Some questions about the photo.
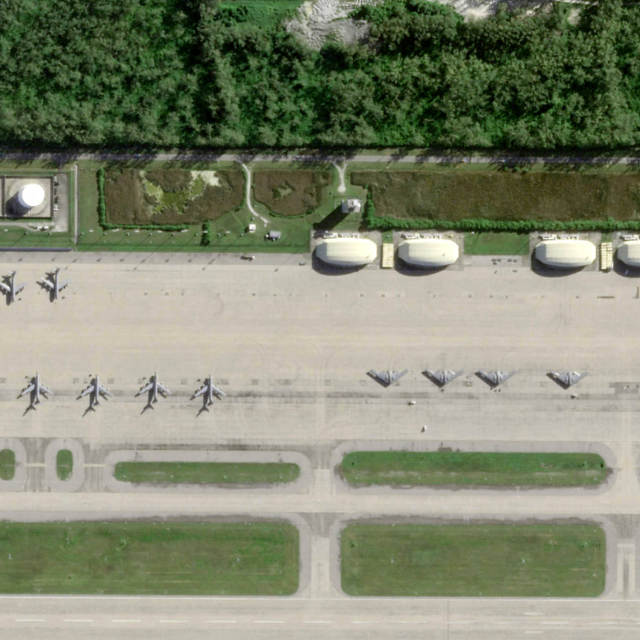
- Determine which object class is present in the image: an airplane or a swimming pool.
airplane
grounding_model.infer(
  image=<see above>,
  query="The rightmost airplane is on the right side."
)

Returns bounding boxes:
[552,370,587,386]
